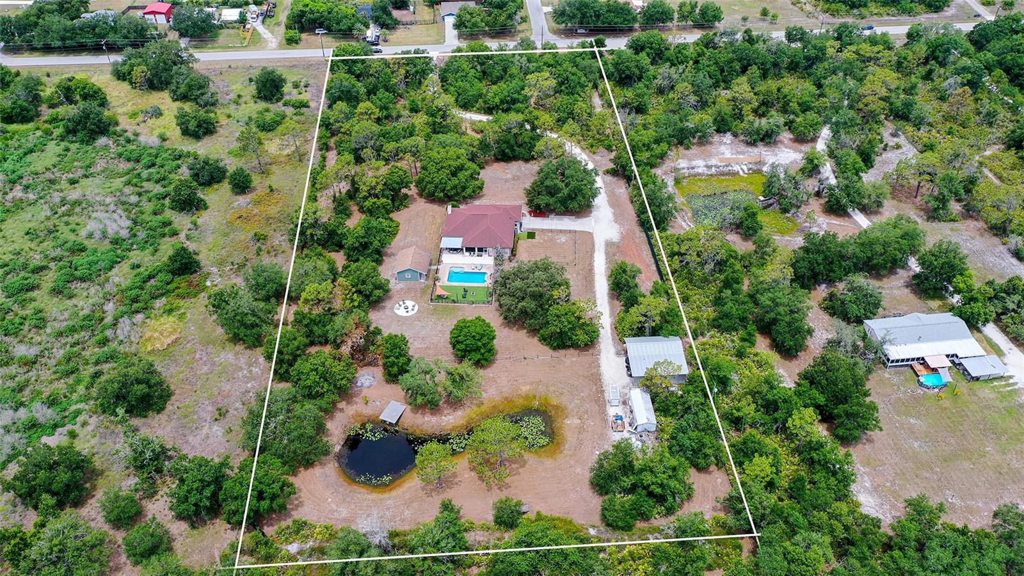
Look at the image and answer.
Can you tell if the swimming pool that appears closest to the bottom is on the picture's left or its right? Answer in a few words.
right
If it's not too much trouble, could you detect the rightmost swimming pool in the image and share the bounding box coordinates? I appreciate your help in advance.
[918,371,948,395]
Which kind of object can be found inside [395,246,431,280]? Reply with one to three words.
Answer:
shed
